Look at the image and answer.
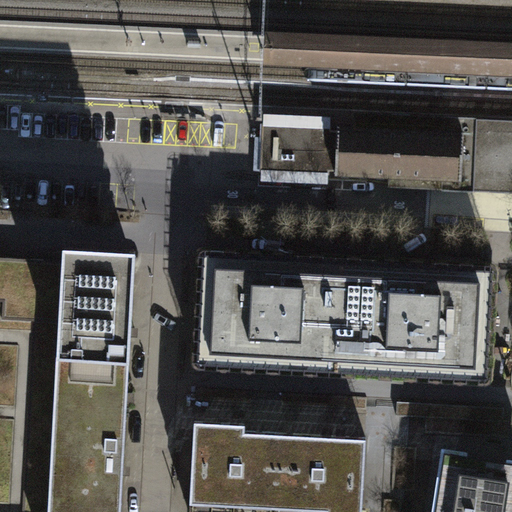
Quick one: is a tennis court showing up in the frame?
No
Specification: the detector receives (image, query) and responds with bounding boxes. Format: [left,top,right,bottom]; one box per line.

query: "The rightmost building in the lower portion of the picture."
[432,448,512,512]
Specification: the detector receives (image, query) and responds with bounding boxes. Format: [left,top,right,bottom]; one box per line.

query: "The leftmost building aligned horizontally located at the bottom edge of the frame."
[188,424,366,512]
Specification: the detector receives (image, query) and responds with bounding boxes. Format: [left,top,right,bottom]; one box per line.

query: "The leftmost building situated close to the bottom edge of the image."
[47,360,129,512]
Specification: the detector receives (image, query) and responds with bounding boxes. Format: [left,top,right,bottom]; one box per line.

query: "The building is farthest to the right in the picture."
[474,118,512,192]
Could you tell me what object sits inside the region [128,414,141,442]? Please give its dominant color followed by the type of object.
black vehicle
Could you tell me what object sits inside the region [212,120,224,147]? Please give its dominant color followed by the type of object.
white vehicle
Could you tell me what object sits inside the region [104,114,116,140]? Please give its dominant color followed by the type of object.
black vehicle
